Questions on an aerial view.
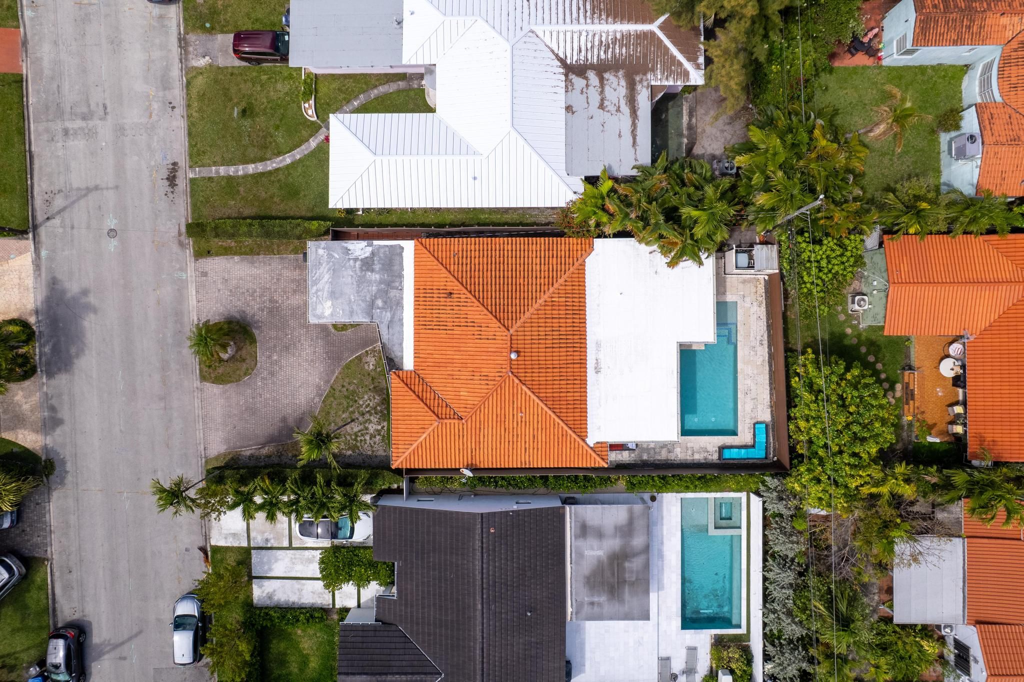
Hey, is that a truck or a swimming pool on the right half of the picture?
swimming pool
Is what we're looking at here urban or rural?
urban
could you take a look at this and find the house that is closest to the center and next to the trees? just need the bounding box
[307,236,715,470]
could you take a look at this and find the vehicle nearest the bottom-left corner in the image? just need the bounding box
[46,626,86,682]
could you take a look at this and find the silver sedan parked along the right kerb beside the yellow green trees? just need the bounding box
[165,597,204,672]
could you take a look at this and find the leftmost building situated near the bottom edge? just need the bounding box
[335,494,650,682]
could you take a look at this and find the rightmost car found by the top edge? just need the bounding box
[230,24,289,64]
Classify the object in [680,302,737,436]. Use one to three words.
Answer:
swimming pool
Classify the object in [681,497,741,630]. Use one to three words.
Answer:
swimming pool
